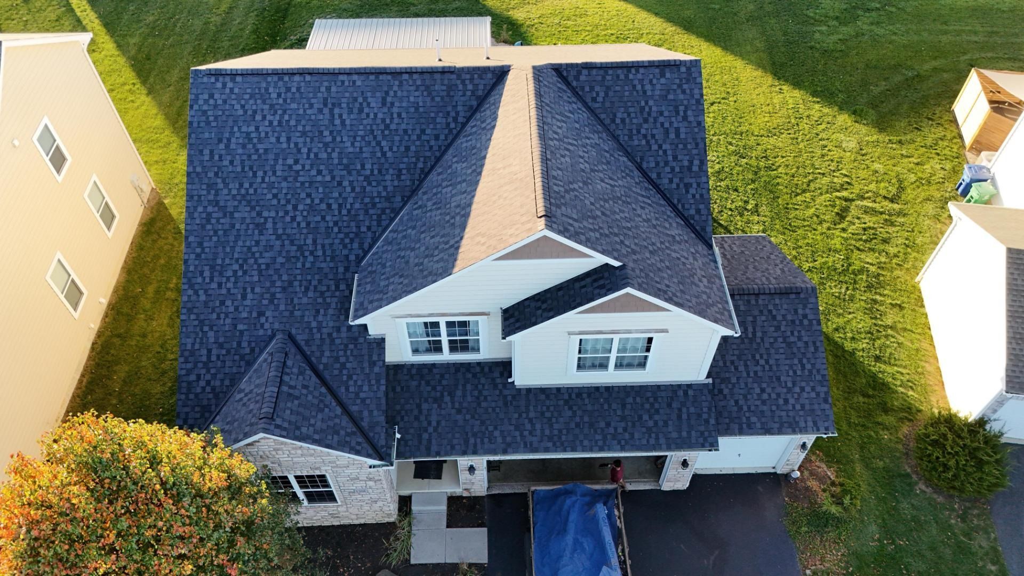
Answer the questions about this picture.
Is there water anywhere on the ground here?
No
